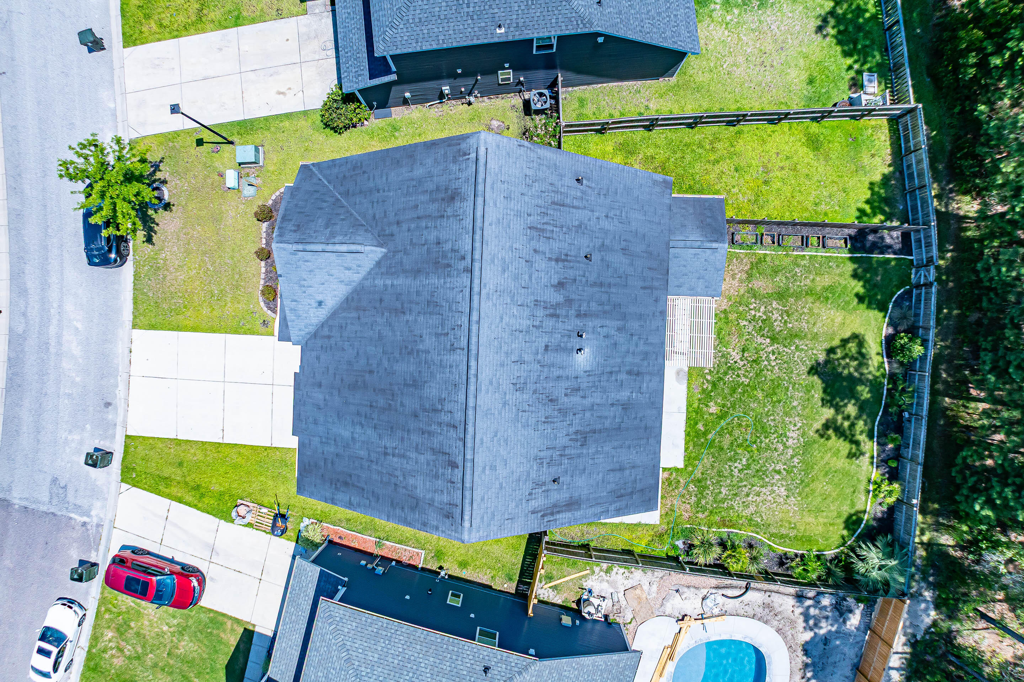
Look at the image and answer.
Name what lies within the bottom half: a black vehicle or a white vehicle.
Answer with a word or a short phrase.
white vehicle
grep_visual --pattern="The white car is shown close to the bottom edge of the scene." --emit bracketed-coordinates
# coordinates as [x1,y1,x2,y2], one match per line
[25,595,87,682]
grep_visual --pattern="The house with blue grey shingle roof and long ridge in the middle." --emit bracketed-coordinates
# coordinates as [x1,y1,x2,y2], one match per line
[273,131,728,543]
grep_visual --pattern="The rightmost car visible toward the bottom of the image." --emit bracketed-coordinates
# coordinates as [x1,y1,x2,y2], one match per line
[102,548,207,610]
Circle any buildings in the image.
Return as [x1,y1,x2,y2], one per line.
[273,131,728,543]
[334,0,700,113]
[254,543,646,682]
